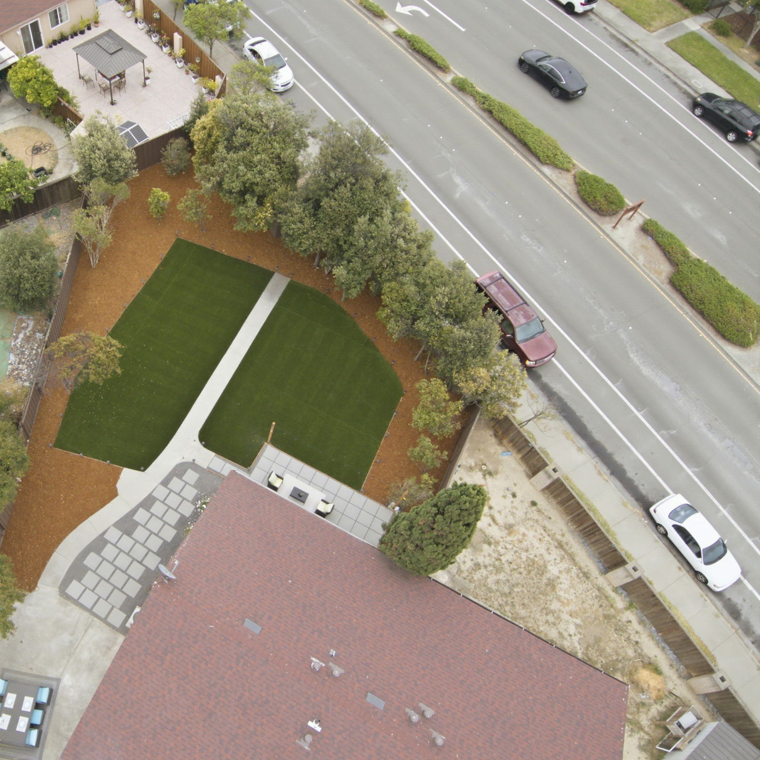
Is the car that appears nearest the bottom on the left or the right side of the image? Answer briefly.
right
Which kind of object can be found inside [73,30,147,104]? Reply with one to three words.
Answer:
gazebo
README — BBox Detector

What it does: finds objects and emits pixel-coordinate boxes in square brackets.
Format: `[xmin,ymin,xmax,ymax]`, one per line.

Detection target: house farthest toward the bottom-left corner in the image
[61,468,629,760]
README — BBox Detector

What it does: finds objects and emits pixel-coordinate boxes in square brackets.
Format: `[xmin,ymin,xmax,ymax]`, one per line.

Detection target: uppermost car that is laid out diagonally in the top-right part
[516,47,590,103]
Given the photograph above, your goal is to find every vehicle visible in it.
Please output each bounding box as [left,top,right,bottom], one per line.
[231,28,294,90]
[516,47,590,103]
[651,499,746,599]
[558,0,602,19]
[692,89,760,147]
[471,261,563,367]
